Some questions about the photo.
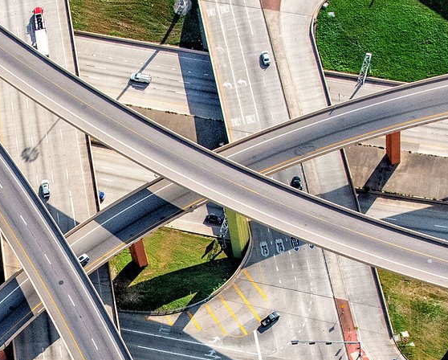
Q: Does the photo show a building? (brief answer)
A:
No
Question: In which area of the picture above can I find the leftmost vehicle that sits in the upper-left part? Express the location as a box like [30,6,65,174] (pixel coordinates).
[34,14,51,54]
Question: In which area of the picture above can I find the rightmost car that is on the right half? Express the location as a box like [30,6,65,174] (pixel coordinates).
[290,173,303,191]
